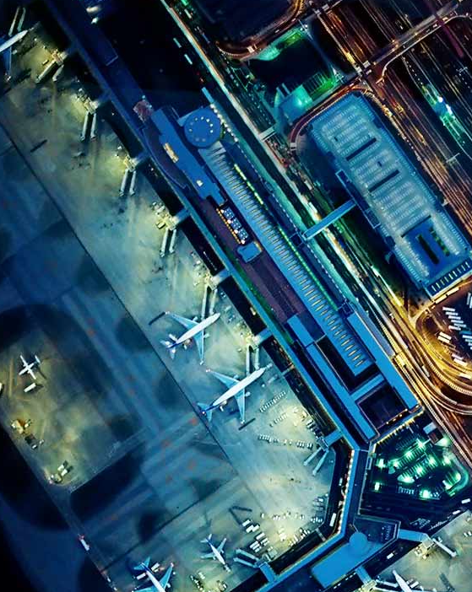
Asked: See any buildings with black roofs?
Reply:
Yes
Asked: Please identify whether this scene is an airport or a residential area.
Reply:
airport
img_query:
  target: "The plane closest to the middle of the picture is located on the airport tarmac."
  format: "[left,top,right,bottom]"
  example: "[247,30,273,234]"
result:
[157,307,219,364]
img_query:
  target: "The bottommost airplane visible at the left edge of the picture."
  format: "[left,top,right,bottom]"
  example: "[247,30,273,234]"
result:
[18,356,38,377]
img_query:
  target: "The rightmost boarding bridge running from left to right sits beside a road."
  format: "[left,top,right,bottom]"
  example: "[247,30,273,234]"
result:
[400,530,430,545]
